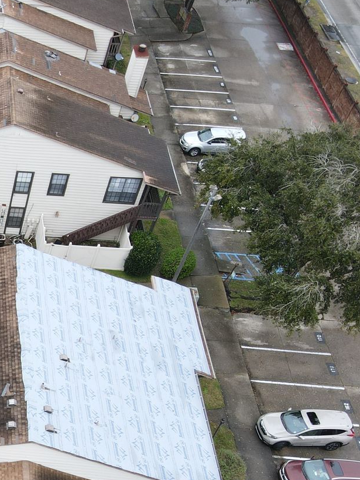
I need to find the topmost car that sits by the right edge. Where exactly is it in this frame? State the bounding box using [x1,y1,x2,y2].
[260,405,356,450]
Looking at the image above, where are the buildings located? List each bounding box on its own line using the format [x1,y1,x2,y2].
[0,0,180,252]
[0,244,225,480]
